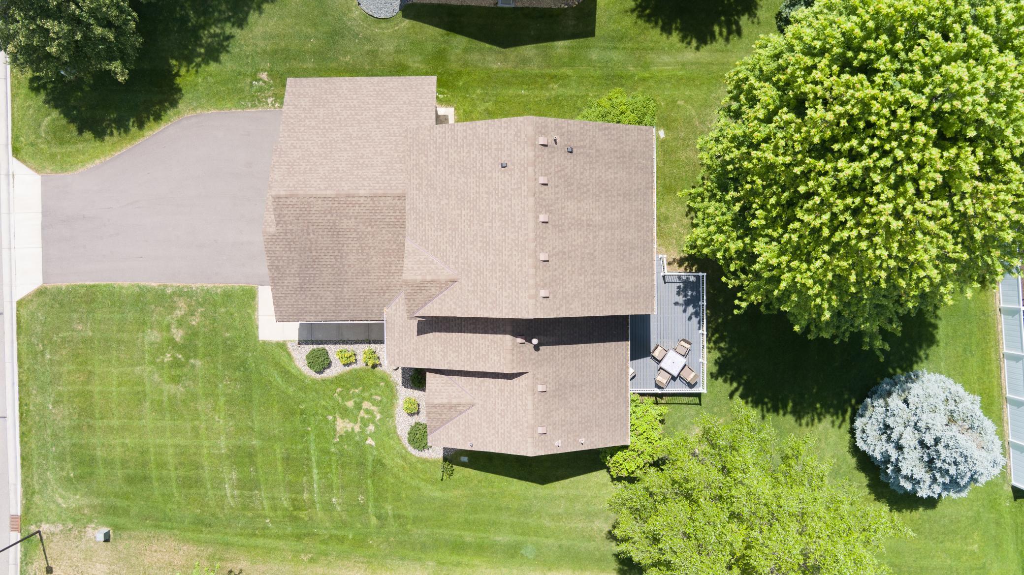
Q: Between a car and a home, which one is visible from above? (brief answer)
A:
home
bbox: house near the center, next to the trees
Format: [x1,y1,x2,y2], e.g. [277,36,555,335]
[263,75,658,457]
